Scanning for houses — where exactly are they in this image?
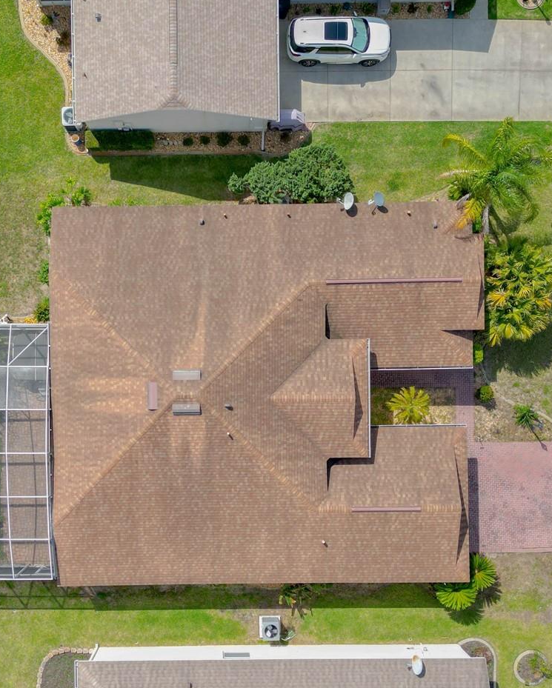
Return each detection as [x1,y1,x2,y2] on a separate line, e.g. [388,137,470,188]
[74,646,490,688]
[38,0,377,153]
[46,200,486,586]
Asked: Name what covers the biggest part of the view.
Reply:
buildings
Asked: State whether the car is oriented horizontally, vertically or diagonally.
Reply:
horizontally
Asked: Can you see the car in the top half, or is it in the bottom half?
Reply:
top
